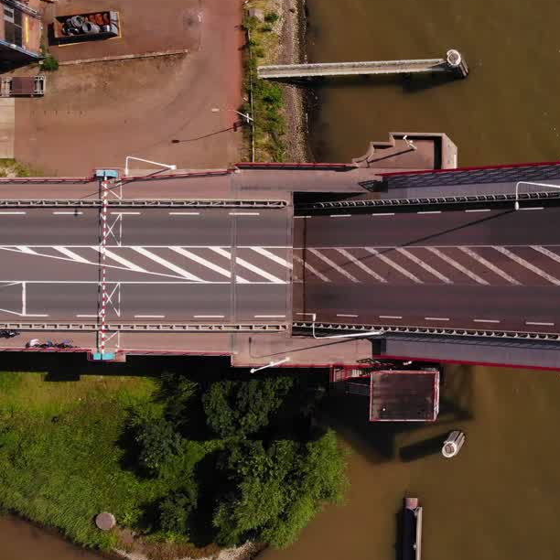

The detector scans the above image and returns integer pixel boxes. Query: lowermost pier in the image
[405,491,424,560]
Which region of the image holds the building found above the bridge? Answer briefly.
top left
